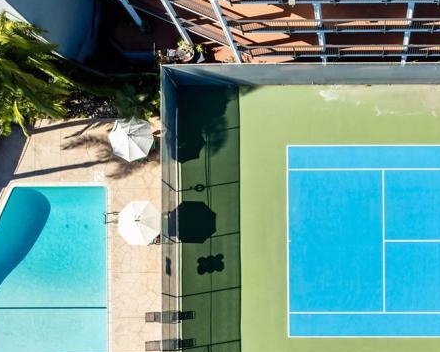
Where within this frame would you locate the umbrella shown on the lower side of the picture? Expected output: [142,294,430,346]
[119,202,161,244]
